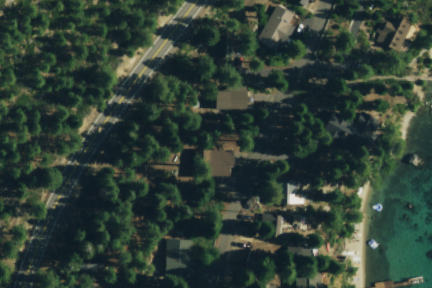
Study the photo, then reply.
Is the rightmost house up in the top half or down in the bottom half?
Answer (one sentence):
It is in the top half that the rightmost house appears.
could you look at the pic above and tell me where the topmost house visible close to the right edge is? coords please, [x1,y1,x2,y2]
[374,17,416,50]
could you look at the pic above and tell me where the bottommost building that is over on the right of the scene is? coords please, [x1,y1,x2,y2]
[294,272,327,287]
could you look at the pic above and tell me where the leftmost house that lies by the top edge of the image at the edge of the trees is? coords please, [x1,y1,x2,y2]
[260,5,296,46]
